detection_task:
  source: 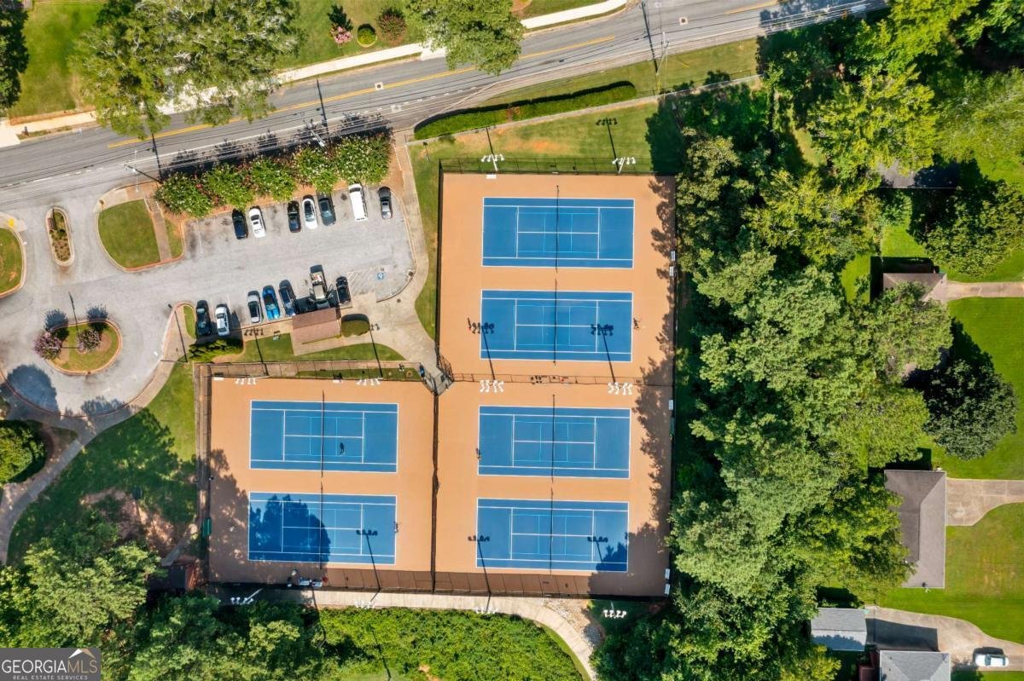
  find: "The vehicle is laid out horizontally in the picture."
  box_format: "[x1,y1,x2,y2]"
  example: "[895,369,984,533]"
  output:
[974,652,1008,668]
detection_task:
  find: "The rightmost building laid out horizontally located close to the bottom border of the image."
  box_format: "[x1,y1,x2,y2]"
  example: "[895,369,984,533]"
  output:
[872,646,951,681]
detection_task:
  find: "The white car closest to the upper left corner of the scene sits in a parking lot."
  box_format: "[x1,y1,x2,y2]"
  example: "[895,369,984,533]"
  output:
[248,206,266,238]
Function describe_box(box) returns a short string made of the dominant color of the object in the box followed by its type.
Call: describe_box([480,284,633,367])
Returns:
blue tennis court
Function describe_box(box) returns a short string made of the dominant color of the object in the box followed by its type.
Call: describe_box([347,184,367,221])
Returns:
white car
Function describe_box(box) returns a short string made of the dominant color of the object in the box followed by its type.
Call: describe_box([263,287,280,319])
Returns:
blue car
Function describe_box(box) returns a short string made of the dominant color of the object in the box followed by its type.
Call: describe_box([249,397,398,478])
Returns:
blue tennis court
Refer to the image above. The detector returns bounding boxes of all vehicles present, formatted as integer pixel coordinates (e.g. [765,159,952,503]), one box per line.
[318,193,336,225]
[378,187,393,219]
[974,652,1008,668]
[302,196,318,228]
[308,265,332,304]
[247,292,263,323]
[279,283,297,315]
[347,184,367,221]
[263,287,280,319]
[214,305,231,336]
[336,277,351,307]
[248,206,266,238]
[286,202,302,231]
[196,303,211,335]
[231,209,248,240]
